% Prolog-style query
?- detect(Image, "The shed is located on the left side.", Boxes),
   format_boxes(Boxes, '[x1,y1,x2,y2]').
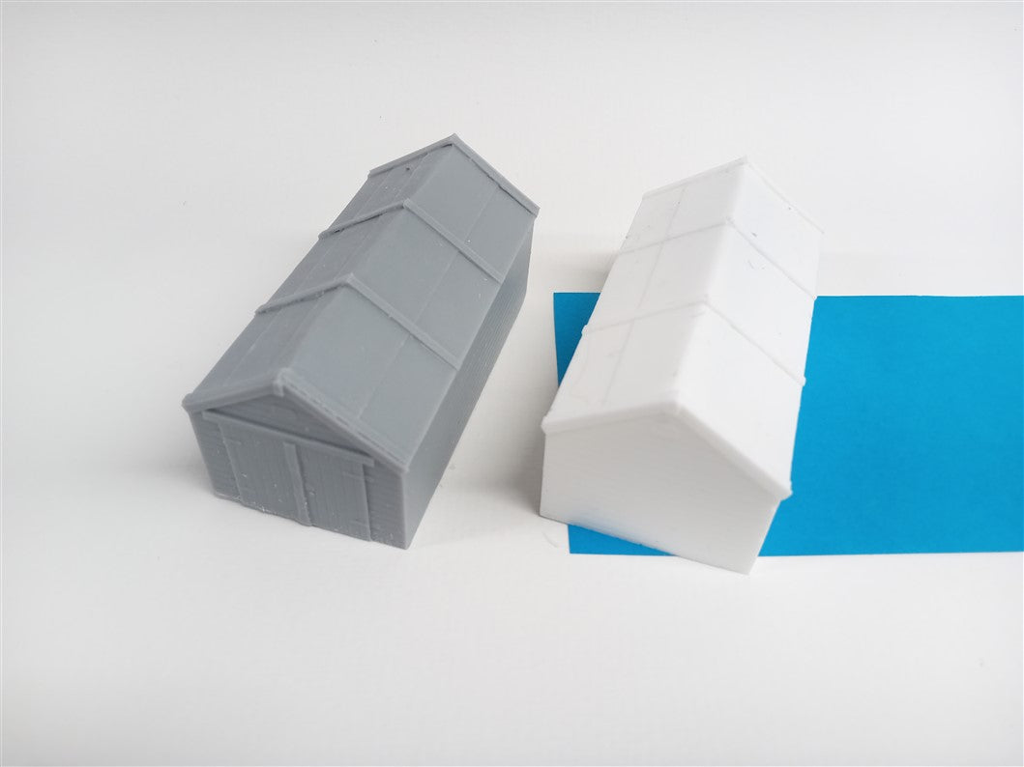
[181,133,542,548]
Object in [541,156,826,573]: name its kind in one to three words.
shed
